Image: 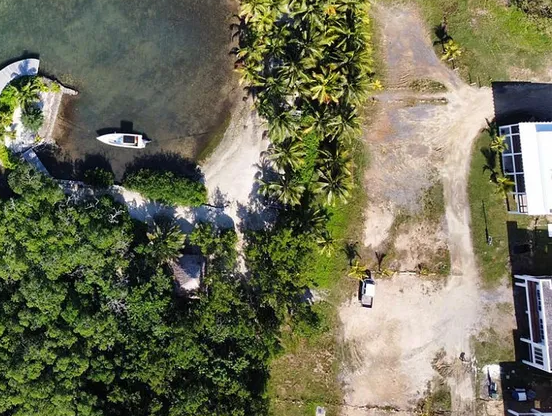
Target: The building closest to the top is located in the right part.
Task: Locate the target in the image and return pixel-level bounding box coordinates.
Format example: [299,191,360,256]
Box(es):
[500,120,552,220]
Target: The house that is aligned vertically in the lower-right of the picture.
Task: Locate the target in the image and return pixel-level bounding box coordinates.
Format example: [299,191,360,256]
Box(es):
[503,270,552,372]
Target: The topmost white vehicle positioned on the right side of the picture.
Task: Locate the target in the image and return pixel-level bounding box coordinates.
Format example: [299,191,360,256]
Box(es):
[359,277,377,307]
